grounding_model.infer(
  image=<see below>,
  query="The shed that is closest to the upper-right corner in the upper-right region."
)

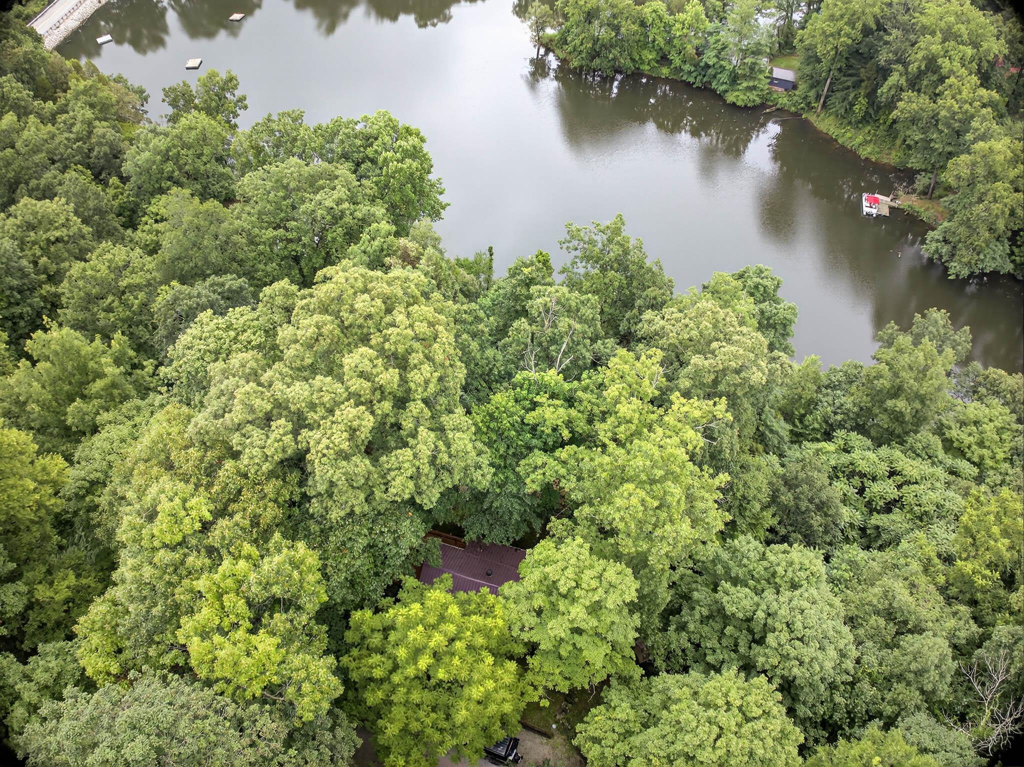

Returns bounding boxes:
[768,70,796,87]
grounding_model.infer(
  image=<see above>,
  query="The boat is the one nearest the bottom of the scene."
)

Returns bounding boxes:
[862,193,881,218]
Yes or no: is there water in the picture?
Yes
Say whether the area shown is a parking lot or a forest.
forest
